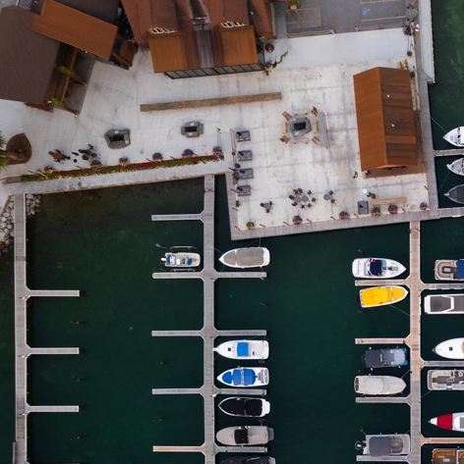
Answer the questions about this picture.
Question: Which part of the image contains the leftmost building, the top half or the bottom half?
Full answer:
The top half of the photo is where the leftmost building is.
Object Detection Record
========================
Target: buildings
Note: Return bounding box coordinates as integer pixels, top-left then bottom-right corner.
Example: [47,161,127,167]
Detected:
[353,64,425,179]
[0,0,141,123]
[125,0,281,80]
